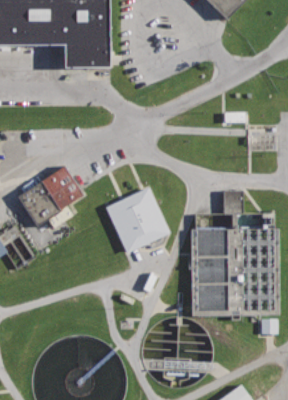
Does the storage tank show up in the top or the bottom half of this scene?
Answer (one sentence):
It is in the bottom half that the storage tank appears.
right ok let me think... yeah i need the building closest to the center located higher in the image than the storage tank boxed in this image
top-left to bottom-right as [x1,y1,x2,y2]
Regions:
[106,189,172,252]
